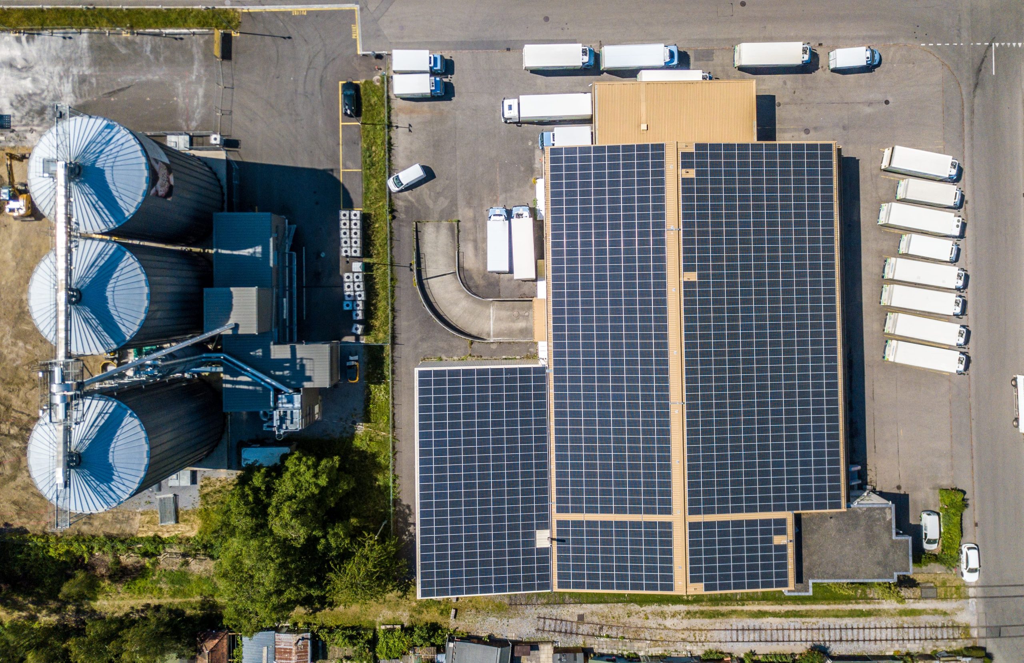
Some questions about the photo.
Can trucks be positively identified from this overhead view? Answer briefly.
Yes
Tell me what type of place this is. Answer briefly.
industrial area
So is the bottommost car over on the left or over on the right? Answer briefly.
right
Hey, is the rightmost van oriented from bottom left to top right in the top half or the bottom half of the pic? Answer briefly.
top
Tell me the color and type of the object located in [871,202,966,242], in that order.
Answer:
white truck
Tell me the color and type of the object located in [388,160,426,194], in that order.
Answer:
white van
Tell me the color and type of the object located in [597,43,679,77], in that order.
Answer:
white truck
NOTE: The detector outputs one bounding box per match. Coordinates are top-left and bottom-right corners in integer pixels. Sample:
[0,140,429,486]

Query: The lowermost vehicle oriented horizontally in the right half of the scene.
[878,339,970,377]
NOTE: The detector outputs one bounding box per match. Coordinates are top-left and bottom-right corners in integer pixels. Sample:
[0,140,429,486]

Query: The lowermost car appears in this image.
[959,543,980,579]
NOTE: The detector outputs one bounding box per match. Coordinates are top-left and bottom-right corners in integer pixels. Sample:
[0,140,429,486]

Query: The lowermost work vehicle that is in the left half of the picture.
[346,354,359,382]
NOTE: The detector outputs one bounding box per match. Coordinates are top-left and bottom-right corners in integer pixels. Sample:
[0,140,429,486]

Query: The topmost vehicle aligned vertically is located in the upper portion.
[340,81,358,120]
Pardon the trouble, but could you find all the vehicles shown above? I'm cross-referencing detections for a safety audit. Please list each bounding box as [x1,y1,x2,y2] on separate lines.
[1010,375,1024,432]
[878,312,971,350]
[874,145,962,185]
[892,234,960,267]
[340,81,358,120]
[507,205,535,280]
[500,93,592,126]
[346,354,359,382]
[871,202,966,242]
[827,44,883,74]
[875,285,966,320]
[388,160,426,194]
[959,543,980,579]
[537,126,591,154]
[520,43,594,76]
[917,509,941,547]
[890,178,964,212]
[392,49,446,78]
[634,70,713,80]
[878,339,970,377]
[877,258,968,294]
[597,43,679,77]
[484,207,511,272]
[392,73,447,101]
[730,41,812,75]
